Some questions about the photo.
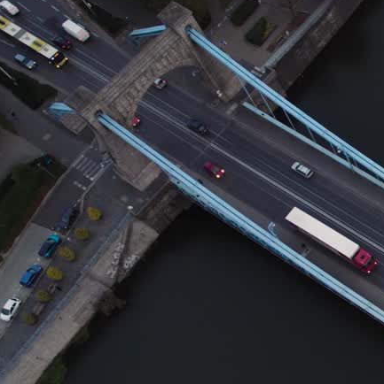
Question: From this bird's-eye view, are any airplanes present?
No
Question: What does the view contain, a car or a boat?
car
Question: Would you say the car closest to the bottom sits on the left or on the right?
left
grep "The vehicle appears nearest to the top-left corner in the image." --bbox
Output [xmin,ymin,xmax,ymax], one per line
[0,0,22,17]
